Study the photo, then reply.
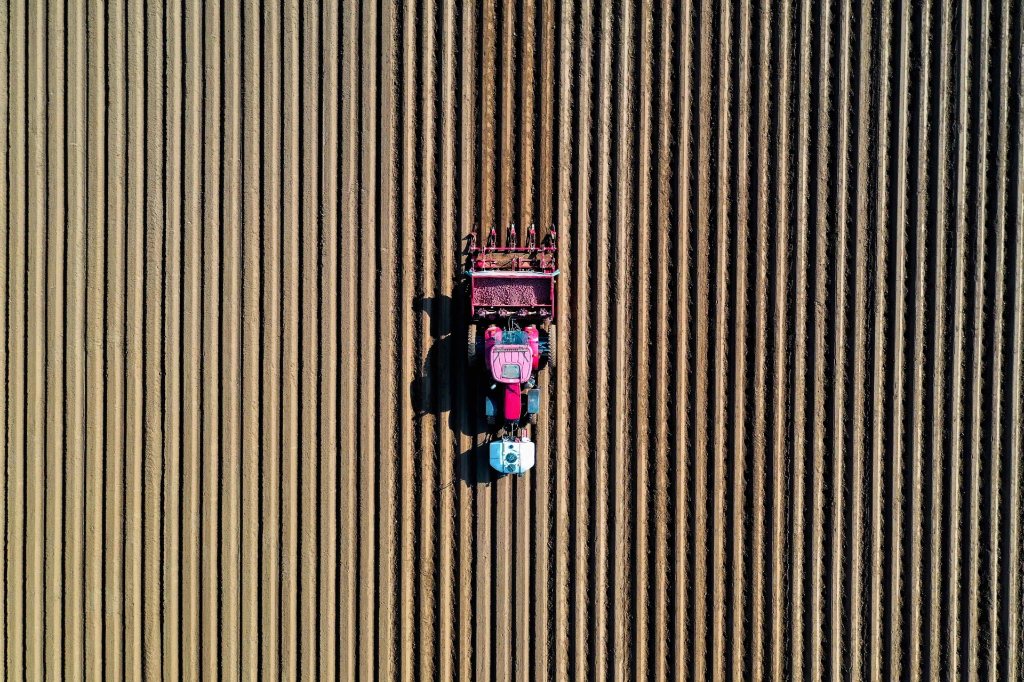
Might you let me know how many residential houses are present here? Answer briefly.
0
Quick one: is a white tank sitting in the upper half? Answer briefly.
No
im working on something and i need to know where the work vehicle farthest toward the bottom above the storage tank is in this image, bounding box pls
[468,315,556,437]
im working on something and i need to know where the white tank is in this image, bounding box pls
[490,429,535,477]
